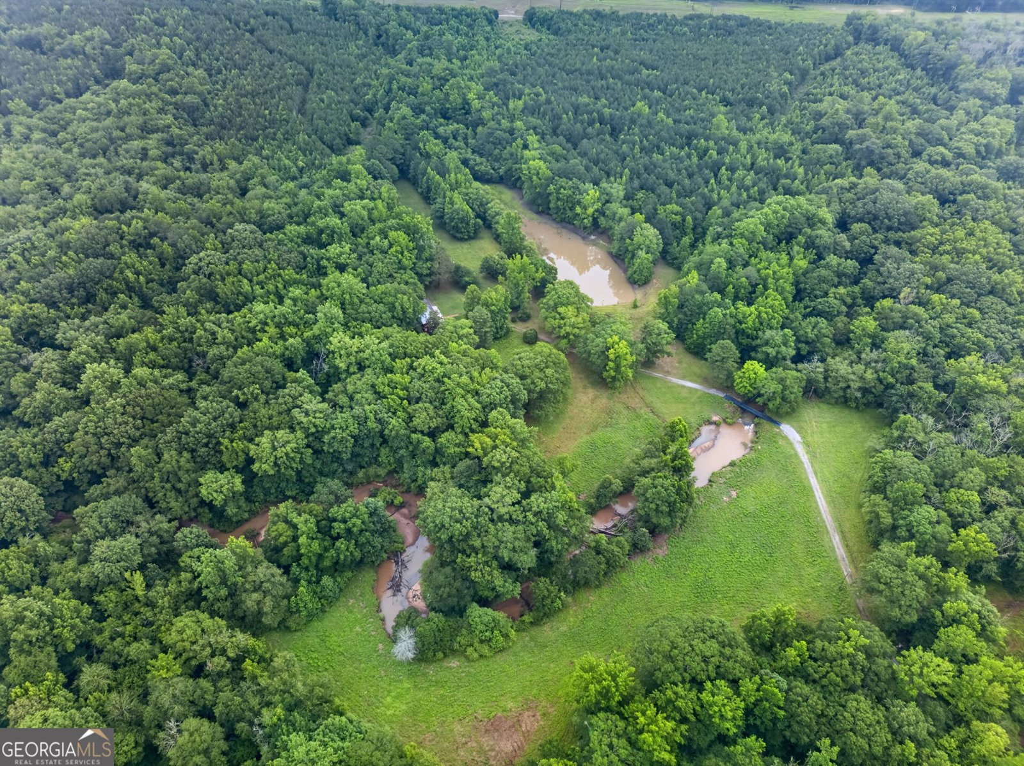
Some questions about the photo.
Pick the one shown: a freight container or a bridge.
bridge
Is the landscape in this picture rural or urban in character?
rural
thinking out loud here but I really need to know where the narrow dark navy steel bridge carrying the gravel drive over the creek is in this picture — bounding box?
[721,391,790,429]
